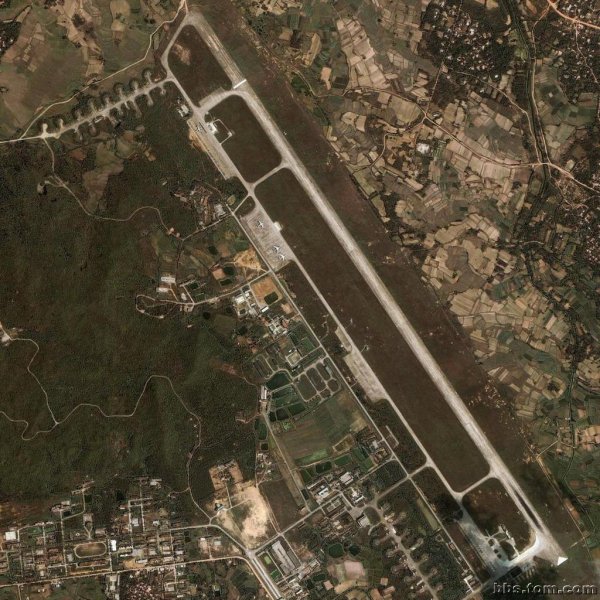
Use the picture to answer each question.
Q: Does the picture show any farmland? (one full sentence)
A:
Yes, farmland can be seen from above here.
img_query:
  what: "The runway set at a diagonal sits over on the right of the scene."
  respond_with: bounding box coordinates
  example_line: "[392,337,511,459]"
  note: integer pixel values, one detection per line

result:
[233,79,567,570]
